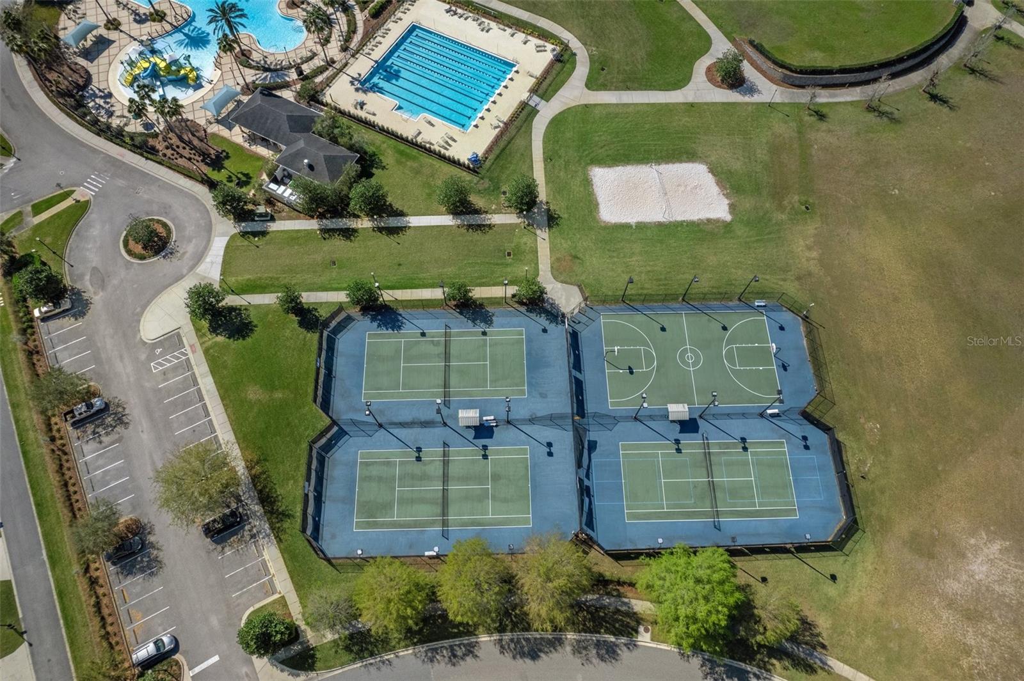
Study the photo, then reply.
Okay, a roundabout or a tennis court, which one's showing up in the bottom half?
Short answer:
tennis court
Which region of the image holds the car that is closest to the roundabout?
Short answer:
left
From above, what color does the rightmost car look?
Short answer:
black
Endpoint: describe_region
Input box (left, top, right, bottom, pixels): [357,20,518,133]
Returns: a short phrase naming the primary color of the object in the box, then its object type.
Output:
blue swimming pool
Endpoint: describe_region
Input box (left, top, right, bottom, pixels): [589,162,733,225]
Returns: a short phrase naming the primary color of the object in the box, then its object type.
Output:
white sports court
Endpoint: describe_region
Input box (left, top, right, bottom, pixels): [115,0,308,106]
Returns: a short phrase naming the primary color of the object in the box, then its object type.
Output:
blue swimming pool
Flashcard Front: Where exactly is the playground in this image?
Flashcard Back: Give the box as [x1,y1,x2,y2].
[115,25,216,104]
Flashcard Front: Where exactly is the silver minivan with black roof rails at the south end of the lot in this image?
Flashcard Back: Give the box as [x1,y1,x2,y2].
[131,635,176,668]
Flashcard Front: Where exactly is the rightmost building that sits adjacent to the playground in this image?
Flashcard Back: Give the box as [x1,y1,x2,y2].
[229,87,359,189]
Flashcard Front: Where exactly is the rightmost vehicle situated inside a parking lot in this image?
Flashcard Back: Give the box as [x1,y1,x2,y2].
[201,509,241,537]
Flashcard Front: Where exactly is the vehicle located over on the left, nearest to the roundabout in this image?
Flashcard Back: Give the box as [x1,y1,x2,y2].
[35,299,70,319]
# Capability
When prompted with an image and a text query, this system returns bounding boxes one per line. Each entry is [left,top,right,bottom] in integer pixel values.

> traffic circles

[120,215,177,263]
